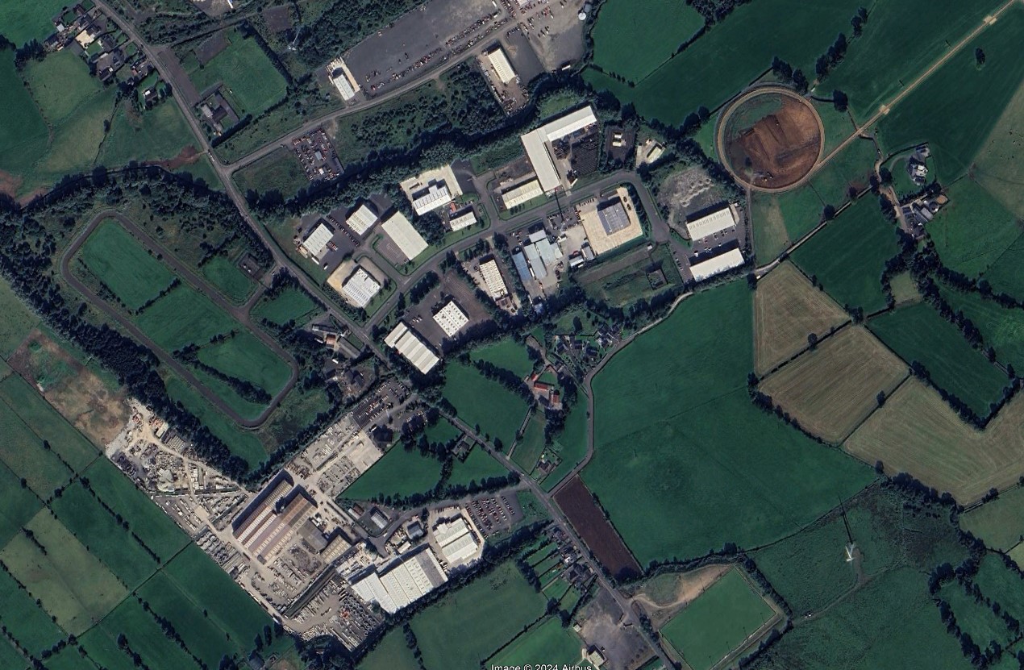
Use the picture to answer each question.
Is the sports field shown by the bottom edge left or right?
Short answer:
right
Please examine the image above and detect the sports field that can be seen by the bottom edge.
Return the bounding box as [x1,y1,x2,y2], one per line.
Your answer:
[659,565,784,670]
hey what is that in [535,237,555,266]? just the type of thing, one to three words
building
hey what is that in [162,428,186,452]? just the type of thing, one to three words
building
